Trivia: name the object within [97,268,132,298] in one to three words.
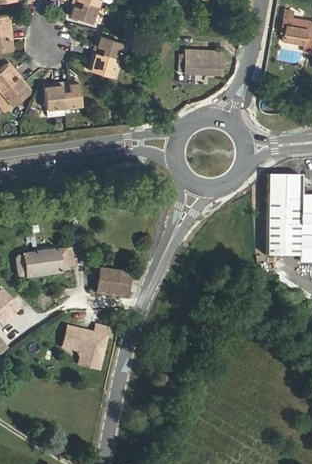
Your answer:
house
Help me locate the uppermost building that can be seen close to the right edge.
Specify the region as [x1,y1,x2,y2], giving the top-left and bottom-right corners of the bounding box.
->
[284,10,312,53]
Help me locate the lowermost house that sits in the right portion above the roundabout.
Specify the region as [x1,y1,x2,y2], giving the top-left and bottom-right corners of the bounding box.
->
[179,50,224,78]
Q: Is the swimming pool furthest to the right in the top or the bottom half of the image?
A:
top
